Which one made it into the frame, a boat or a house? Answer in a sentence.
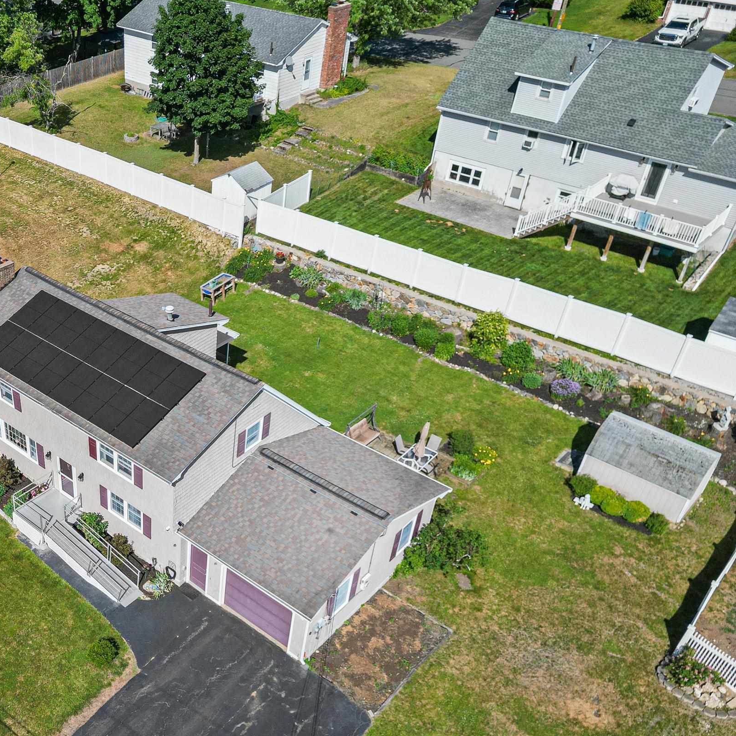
This aerial view contains a house.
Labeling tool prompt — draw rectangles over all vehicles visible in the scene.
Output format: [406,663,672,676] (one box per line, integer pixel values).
[493,0,540,16]
[661,8,712,43]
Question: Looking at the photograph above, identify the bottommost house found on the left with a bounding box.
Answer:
[0,253,457,664]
